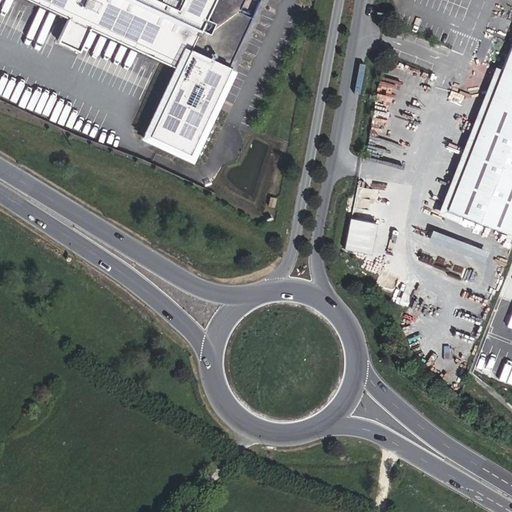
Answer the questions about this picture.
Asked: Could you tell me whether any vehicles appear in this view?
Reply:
Yes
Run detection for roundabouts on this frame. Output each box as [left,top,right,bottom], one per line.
[200,278,370,446]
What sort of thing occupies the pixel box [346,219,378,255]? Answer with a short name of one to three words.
shed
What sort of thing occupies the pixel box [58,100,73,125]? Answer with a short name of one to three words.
vehicle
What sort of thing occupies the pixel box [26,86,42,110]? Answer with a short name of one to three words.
vehicle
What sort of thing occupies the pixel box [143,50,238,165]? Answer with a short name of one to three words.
building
